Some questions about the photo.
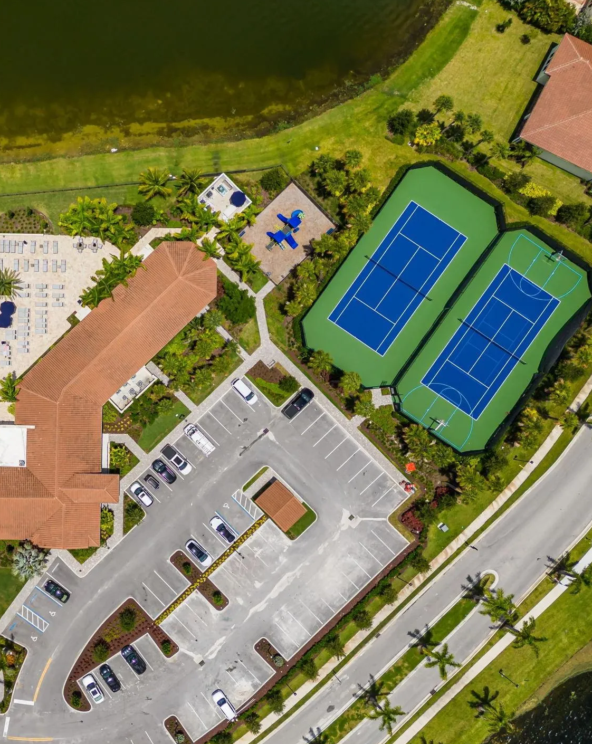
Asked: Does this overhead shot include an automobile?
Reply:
Yes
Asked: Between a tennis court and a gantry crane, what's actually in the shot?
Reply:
tennis court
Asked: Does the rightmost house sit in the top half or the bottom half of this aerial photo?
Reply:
top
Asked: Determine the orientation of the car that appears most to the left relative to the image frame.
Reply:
at an angle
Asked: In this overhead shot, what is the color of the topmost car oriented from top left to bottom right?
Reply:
white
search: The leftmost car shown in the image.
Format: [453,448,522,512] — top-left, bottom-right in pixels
[44,577,72,605]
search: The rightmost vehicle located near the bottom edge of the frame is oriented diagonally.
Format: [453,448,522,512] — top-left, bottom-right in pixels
[211,688,240,723]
